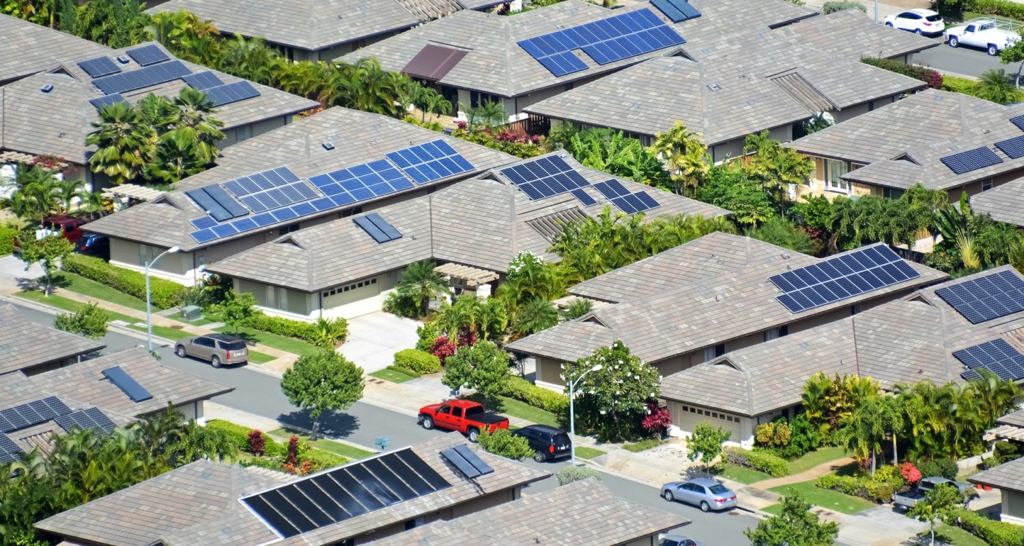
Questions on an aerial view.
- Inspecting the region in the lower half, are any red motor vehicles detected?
Yes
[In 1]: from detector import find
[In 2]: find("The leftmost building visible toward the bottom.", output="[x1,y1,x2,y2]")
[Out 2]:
[0,307,110,378]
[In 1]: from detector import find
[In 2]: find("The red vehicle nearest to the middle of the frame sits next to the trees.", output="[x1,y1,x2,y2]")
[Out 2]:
[414,398,508,444]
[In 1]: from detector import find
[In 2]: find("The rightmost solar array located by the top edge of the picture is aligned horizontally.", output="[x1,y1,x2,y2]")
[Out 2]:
[517,8,682,78]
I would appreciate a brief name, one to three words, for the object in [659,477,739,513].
car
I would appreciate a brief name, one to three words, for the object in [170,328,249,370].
car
